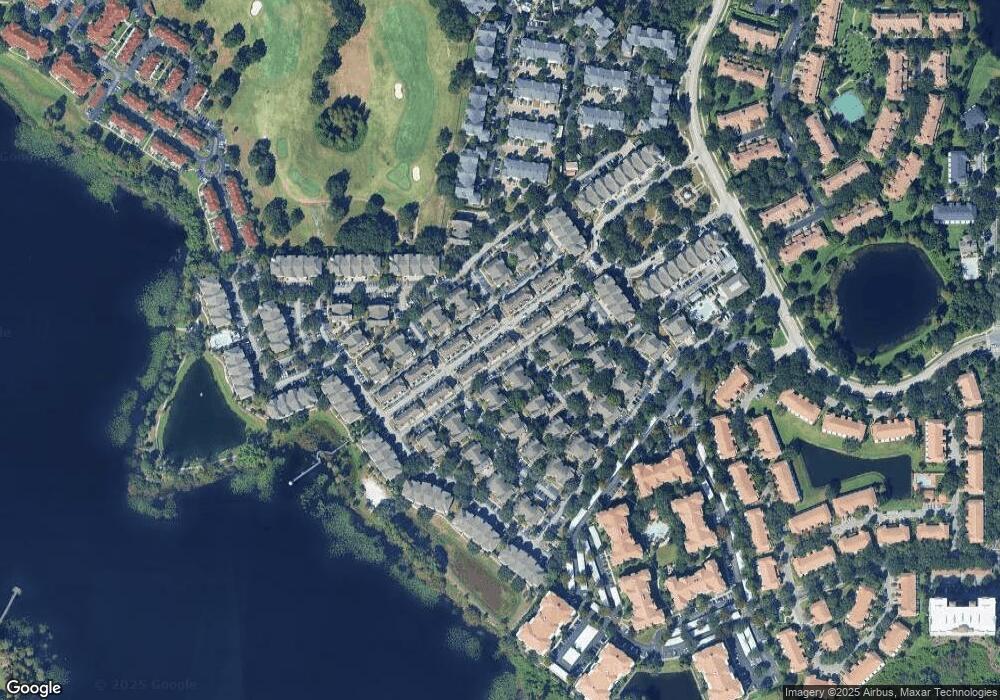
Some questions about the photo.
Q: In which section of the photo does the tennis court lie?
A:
top right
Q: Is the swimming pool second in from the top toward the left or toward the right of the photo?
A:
right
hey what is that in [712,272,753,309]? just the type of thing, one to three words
building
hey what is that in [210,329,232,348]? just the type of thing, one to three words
swimming pool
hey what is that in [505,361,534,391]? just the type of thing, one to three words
house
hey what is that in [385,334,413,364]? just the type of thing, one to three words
house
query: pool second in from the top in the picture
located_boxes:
[691,296,722,322]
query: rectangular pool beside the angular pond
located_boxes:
[914,473,936,489]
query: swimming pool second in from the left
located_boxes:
[646,521,668,540]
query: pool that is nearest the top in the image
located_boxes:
[962,258,979,279]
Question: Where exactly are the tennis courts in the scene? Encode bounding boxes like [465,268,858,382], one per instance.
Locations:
[829,91,867,124]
